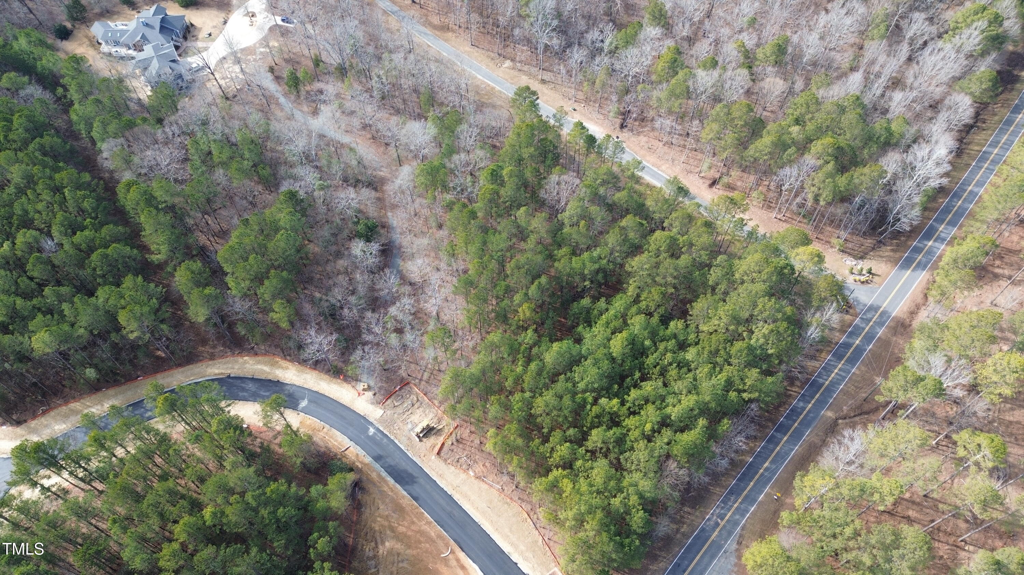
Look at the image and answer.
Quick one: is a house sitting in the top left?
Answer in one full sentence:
Yes, the scene does show a house in the top left.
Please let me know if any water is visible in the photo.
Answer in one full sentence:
No, the picture contains no water.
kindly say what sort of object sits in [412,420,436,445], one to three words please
work vehicle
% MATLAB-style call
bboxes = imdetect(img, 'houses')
[90,4,189,84]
